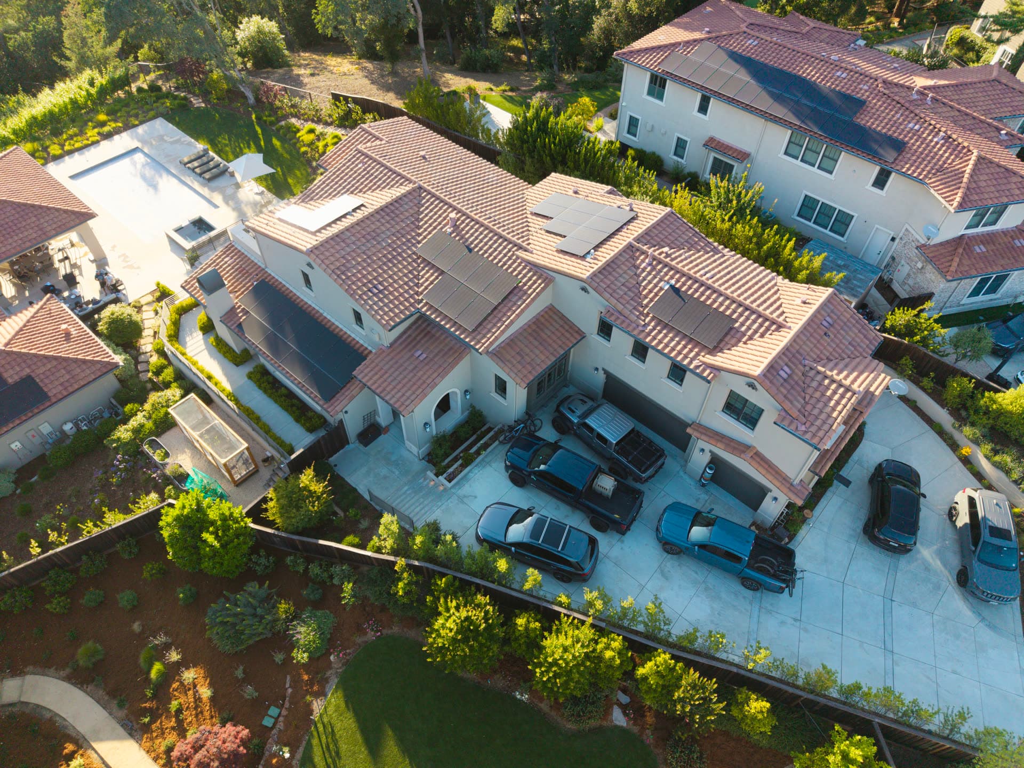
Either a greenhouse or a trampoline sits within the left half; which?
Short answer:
greenhouse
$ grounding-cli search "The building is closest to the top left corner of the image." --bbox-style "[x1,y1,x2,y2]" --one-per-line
[0,144,108,268]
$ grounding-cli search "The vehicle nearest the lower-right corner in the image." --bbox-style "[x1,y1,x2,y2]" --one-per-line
[952,491,1024,616]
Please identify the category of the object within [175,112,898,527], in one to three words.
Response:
house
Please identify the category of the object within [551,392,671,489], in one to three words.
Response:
truck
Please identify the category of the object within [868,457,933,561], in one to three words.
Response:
car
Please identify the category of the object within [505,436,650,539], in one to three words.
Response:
truck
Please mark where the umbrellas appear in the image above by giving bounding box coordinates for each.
[215,148,287,199]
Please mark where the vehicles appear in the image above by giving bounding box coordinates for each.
[551,392,671,489]
[470,505,603,584]
[505,436,650,539]
[652,502,800,597]
[986,307,1024,357]
[952,491,1024,616]
[868,457,933,561]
